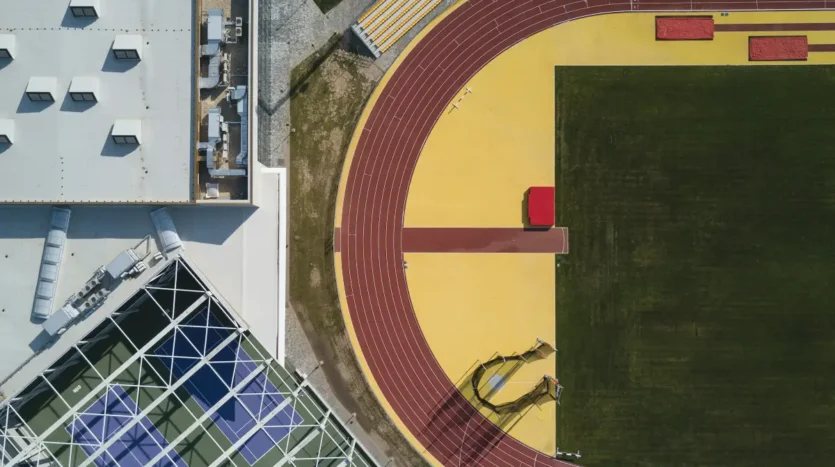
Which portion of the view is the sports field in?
right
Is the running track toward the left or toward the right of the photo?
right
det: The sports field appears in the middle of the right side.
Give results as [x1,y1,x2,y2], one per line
[554,64,835,467]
